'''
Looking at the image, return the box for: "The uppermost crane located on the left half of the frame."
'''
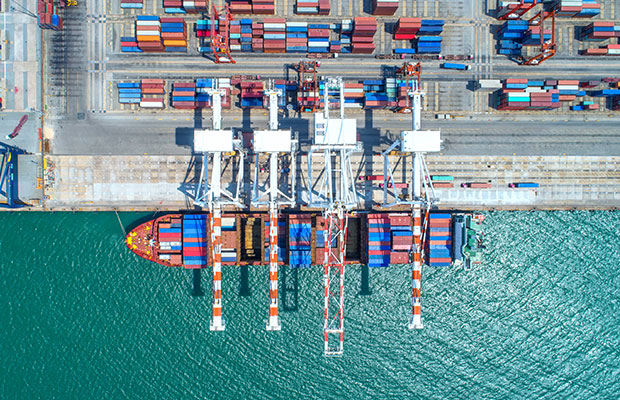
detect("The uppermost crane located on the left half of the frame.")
[210,0,237,60]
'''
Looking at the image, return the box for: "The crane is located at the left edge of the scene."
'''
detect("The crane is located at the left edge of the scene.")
[0,141,41,209]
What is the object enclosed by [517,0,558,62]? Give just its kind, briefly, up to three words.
crane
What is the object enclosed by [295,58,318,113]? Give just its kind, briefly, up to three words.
crane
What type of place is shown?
port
